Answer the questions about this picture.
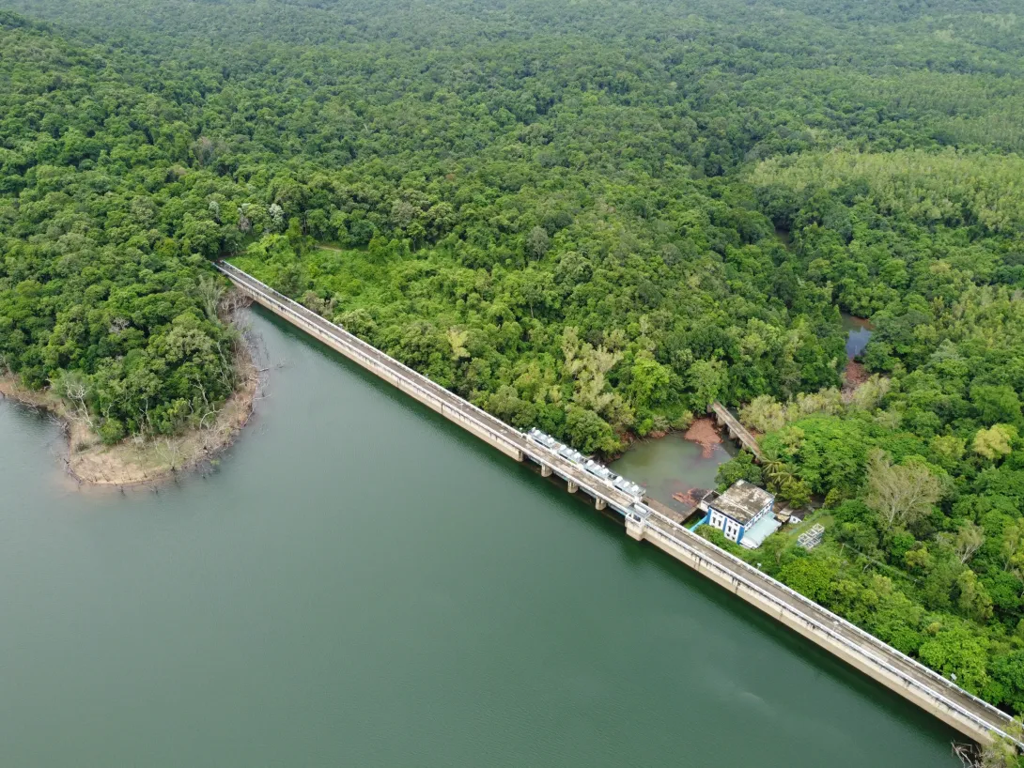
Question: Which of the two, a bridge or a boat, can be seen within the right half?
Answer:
bridge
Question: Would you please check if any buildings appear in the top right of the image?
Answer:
No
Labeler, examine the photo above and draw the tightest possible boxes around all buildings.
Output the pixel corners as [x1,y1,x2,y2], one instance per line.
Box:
[694,476,786,551]
[790,507,804,524]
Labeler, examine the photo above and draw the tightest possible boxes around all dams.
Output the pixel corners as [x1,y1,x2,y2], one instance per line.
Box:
[201,252,1024,752]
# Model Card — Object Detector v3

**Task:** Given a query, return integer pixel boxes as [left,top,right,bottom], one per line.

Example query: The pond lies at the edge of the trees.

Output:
[602,423,744,519]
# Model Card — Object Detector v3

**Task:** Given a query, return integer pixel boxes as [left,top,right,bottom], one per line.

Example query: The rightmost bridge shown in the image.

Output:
[705,399,766,461]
